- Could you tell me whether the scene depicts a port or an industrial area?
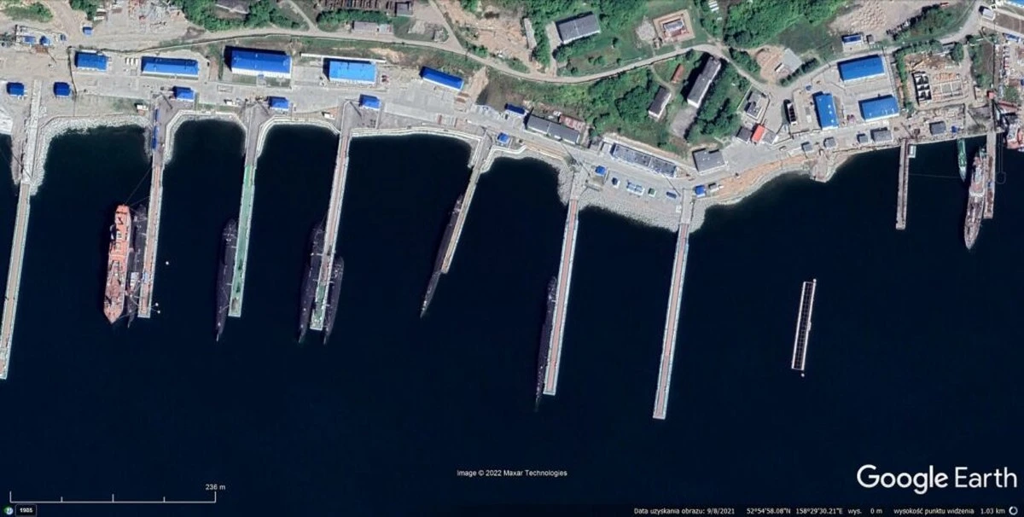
port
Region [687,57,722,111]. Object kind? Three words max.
building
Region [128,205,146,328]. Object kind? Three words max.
ship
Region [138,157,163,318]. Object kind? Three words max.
pier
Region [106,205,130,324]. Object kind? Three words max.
ship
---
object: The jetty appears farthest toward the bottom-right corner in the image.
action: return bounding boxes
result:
[792,282,815,370]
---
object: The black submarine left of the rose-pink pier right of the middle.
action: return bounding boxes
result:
[535,276,557,412]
